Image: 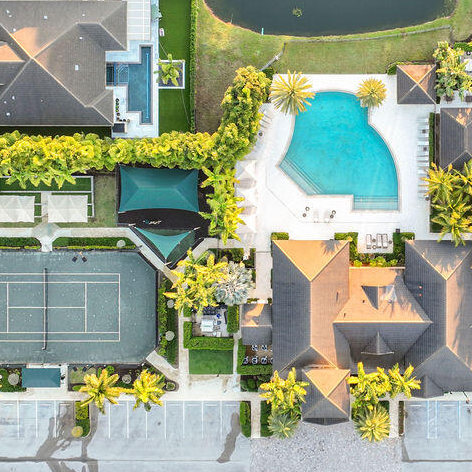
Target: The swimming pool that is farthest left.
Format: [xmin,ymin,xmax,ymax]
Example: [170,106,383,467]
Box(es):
[109,45,152,125]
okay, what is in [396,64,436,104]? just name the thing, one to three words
building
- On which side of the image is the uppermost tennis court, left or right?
left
